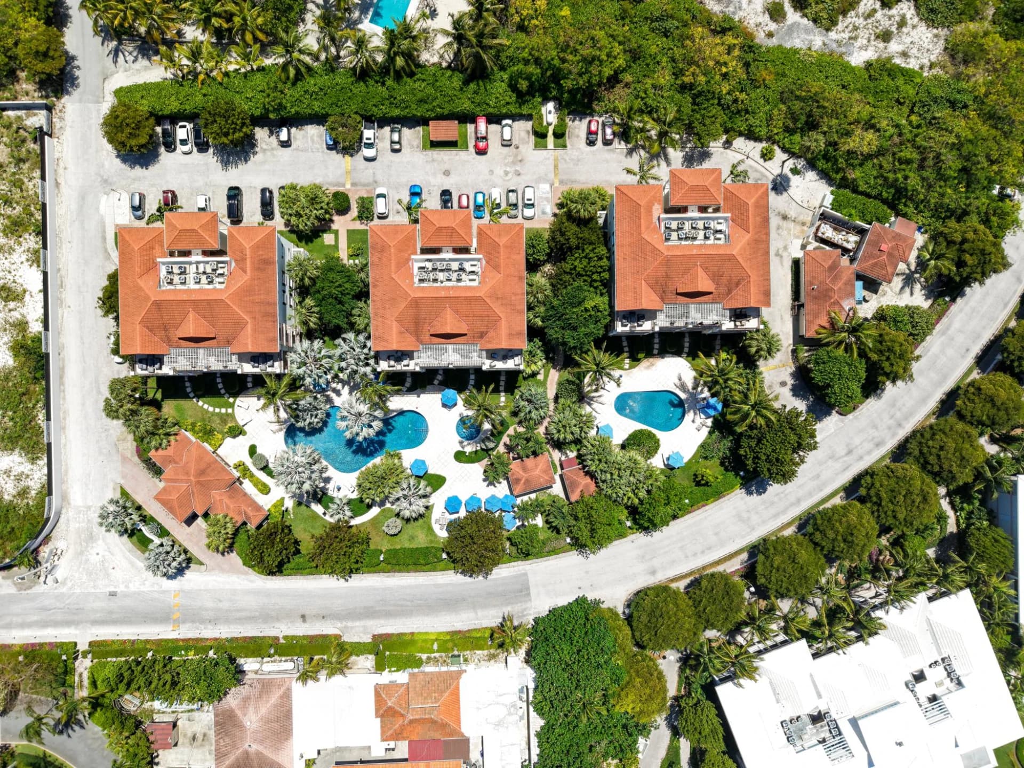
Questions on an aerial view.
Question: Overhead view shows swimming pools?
Yes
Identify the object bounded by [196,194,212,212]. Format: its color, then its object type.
white car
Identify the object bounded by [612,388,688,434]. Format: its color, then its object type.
blue swimming pool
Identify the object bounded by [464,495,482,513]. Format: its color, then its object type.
blue umbrella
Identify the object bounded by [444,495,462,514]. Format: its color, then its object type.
blue umbrella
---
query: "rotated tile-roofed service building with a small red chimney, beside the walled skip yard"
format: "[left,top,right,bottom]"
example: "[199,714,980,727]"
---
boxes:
[850,217,917,284]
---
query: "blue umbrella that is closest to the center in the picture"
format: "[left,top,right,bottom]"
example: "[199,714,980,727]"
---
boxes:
[440,389,459,407]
